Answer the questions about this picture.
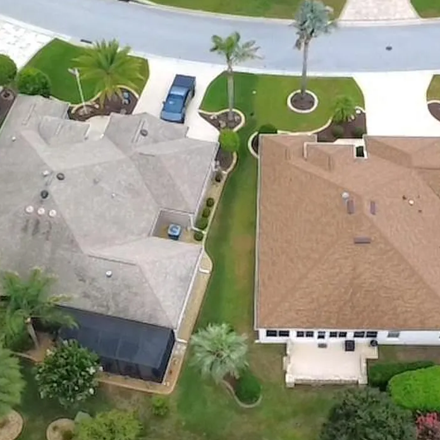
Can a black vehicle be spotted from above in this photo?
No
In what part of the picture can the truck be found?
top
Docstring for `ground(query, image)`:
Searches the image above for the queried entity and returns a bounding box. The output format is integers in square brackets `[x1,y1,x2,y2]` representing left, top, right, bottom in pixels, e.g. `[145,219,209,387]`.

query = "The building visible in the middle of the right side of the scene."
[253,135,440,343]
